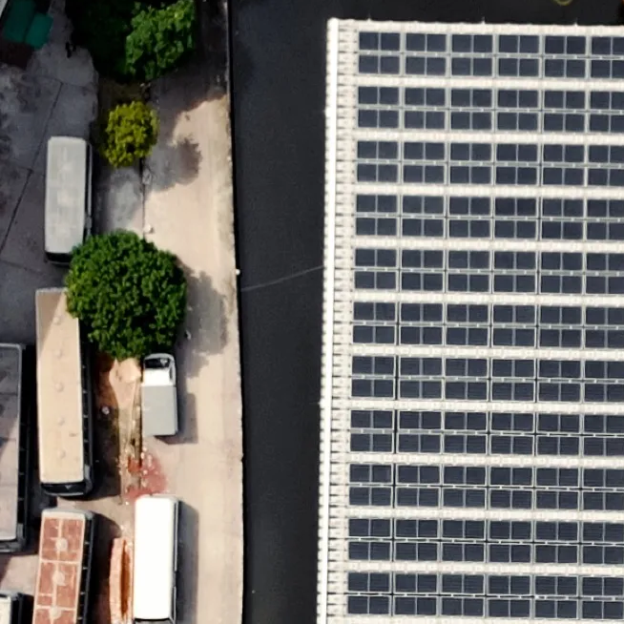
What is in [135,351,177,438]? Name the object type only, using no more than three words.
truck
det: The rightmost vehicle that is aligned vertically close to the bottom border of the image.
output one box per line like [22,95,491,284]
[134,493,183,624]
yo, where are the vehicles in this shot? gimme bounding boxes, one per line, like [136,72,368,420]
[135,351,177,438]
[0,343,38,555]
[35,503,100,624]
[38,290,97,497]
[134,493,183,624]
[47,138,100,268]
[0,587,26,624]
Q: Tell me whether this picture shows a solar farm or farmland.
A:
solar farm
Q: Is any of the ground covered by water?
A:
Yes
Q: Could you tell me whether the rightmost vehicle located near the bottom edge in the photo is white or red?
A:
white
